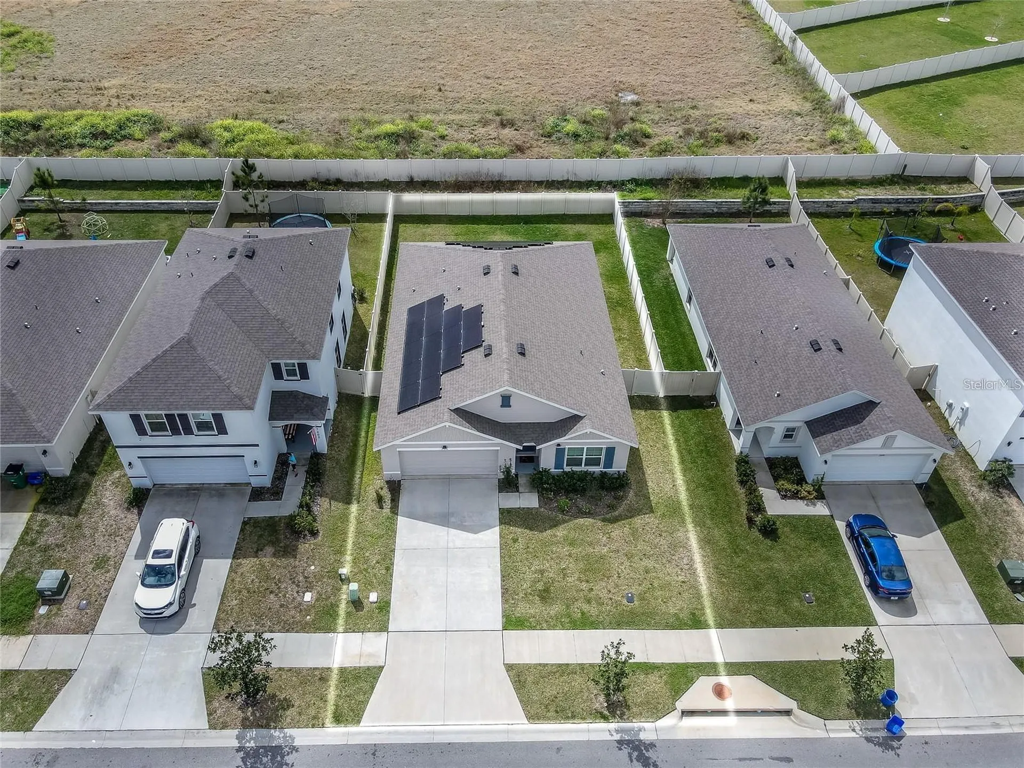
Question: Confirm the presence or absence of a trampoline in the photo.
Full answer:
Yes, there's a trampoline here.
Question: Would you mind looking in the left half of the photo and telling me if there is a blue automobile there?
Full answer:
No, there is no blue automobile in the left half of the photo.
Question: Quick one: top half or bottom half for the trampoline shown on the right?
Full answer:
Seen from above, the trampoline shown on the right lies in the top half of the view.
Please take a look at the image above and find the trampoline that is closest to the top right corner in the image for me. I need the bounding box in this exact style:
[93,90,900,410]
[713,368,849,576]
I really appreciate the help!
[872,214,949,277]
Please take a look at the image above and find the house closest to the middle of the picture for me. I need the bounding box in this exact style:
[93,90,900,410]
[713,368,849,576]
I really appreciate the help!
[374,243,638,477]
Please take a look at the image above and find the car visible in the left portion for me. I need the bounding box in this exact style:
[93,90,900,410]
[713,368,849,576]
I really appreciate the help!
[129,521,199,619]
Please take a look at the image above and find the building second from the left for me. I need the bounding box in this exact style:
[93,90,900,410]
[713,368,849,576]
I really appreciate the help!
[89,229,354,487]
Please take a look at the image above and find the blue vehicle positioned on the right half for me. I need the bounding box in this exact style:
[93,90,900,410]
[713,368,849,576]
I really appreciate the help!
[846,509,921,597]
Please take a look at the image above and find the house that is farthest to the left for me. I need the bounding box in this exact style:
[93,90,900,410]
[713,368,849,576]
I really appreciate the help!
[0,242,167,476]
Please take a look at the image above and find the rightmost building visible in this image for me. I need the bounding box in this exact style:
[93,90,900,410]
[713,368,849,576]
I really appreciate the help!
[884,244,1024,469]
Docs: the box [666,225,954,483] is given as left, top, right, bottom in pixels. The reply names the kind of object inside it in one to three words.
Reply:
house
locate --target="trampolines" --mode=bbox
[265,194,331,230]
[872,214,949,277]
